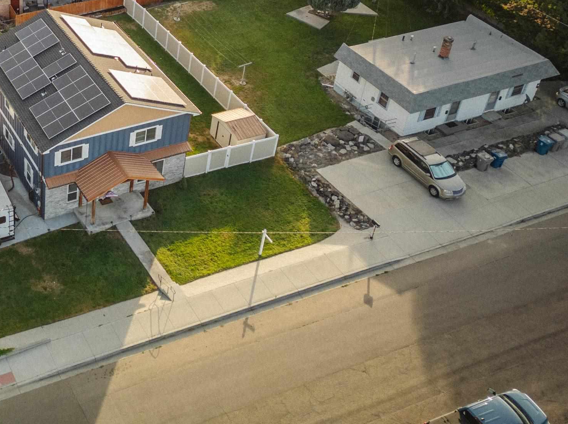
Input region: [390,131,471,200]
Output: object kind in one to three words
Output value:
car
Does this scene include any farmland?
No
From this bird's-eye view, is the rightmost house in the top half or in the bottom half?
top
